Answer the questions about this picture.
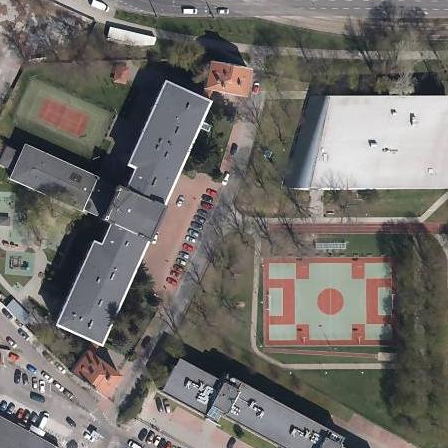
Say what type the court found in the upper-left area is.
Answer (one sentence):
The court found in the upper-left area is a tennis court.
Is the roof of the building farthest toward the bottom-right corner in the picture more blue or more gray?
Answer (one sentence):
From above, the roof of the building farthest toward the bottom-right corner appears gray.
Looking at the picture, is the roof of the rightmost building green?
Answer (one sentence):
No, the roof of the rightmost building is actually white.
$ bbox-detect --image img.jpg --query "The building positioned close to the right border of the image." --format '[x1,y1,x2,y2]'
[287,87,448,189]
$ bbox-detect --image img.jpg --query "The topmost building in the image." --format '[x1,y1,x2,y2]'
[105,26,156,47]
